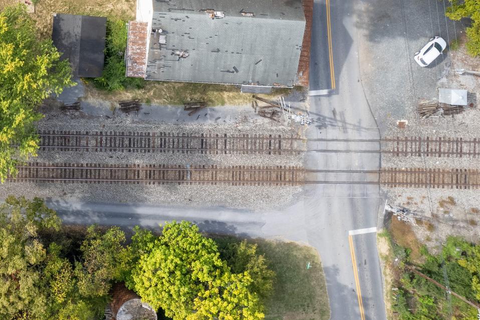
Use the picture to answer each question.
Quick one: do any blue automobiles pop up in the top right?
No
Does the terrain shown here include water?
No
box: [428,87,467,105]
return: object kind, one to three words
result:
shed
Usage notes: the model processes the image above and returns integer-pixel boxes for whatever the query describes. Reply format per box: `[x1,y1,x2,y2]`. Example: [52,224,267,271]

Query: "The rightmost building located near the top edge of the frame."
[120,0,315,93]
